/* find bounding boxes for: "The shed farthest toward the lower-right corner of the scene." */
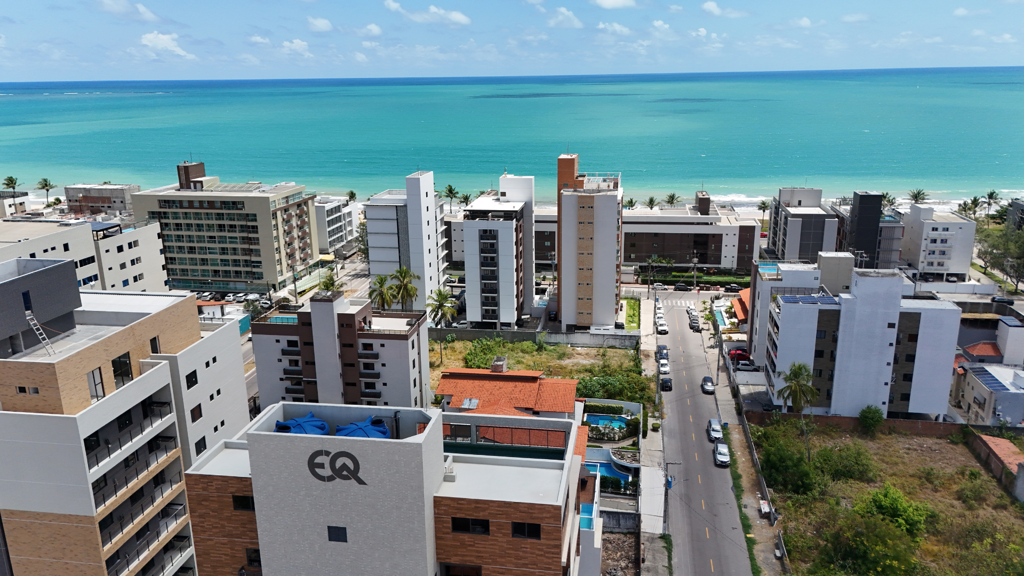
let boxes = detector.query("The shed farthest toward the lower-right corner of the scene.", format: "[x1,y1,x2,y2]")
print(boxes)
[984,432,1024,477]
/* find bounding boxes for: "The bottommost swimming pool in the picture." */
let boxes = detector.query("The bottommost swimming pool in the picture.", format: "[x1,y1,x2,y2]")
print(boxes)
[583,501,596,532]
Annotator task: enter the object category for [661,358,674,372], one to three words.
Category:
vehicle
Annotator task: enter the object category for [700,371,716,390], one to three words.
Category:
car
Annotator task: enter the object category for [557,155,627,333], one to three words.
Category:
building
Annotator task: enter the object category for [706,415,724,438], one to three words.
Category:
car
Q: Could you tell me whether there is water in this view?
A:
Yes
